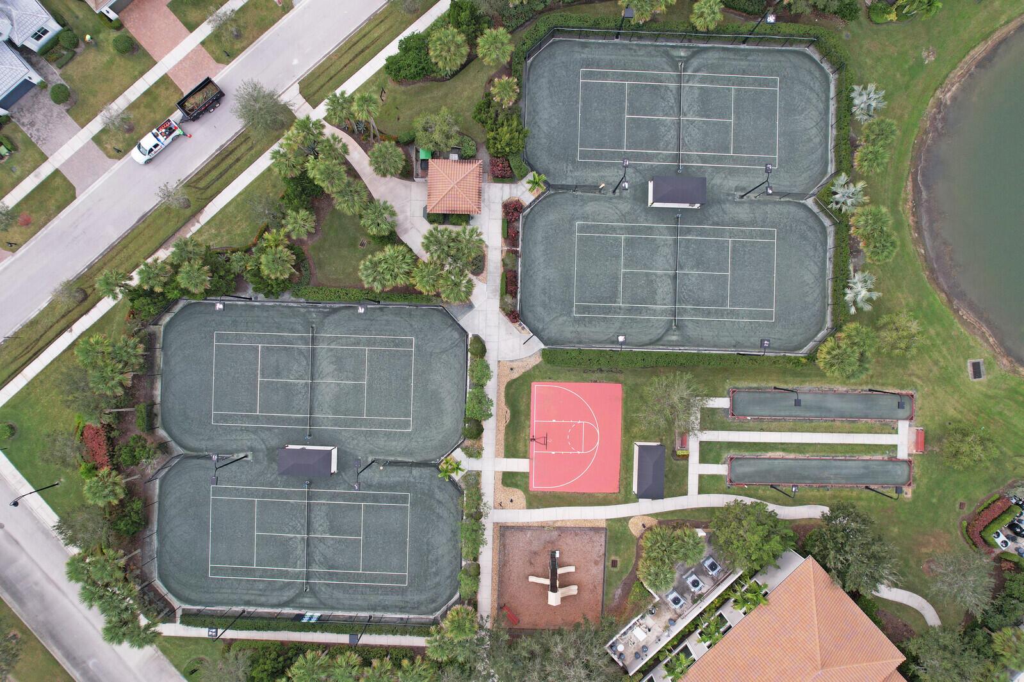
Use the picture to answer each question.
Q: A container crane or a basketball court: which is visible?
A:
basketball court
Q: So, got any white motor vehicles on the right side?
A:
No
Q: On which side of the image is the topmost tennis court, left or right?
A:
right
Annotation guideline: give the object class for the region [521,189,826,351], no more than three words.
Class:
tennis court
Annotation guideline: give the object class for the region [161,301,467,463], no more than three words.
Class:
tennis court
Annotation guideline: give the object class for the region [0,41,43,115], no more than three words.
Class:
house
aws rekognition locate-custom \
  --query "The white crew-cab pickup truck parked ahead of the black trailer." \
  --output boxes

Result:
[128,118,178,164]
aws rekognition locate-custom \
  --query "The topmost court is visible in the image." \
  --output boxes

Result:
[526,40,830,197]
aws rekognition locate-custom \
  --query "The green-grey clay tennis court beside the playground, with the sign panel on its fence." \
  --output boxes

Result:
[158,455,461,615]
